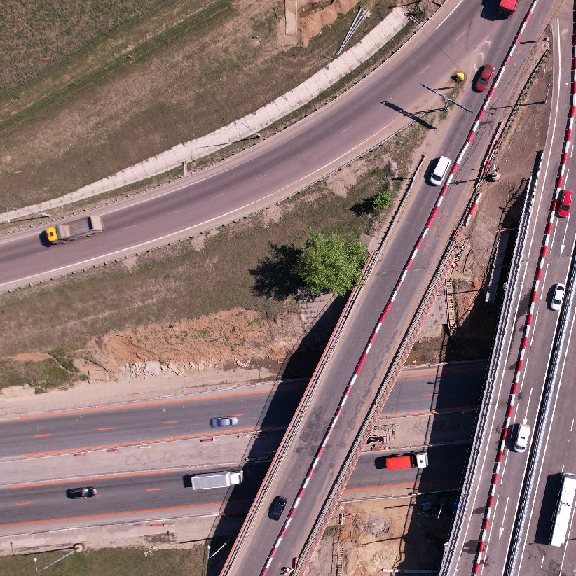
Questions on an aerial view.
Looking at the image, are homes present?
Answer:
No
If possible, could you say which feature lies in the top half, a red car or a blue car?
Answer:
red car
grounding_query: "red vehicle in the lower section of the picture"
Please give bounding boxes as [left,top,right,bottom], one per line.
[384,452,430,470]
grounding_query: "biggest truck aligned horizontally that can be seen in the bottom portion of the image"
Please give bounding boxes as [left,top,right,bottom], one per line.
[189,469,247,490]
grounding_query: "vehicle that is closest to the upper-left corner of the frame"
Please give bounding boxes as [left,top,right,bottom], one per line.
[48,215,107,244]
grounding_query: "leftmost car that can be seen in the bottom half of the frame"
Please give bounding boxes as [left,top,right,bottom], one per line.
[68,485,95,498]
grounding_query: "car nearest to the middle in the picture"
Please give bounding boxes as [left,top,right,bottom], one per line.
[210,415,238,429]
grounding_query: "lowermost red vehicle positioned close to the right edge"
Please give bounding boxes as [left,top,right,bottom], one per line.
[557,189,572,218]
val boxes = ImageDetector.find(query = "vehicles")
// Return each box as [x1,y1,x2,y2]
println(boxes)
[429,155,452,188]
[549,467,576,547]
[473,63,494,94]
[210,415,238,429]
[514,421,529,453]
[68,485,95,498]
[269,494,288,520]
[497,0,520,17]
[552,282,565,311]
[189,469,247,490]
[384,452,430,470]
[557,189,572,218]
[48,215,107,244]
